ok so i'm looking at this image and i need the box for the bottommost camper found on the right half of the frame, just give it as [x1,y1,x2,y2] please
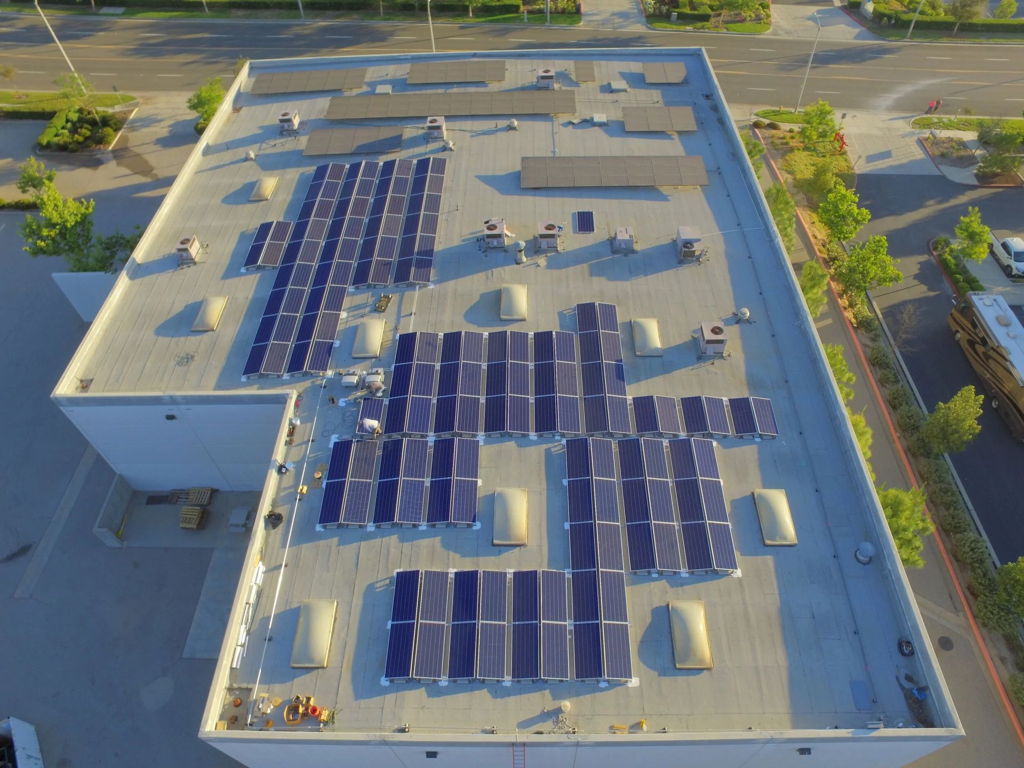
[950,293,1024,473]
